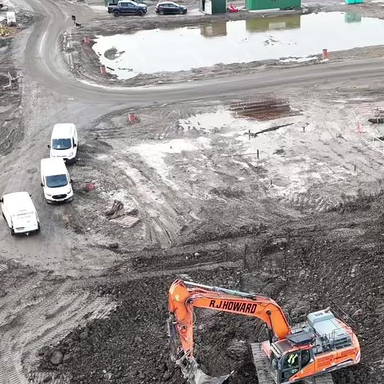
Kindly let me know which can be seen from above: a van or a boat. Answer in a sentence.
It is a van that can be seen here.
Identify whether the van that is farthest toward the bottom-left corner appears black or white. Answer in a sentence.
The van that is farthest toward the bottom-left corner looks white in the image.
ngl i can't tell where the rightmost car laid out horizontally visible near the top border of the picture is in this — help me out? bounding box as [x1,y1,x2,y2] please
[156,1,187,15]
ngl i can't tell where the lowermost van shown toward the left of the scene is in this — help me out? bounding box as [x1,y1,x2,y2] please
[3,195,42,237]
